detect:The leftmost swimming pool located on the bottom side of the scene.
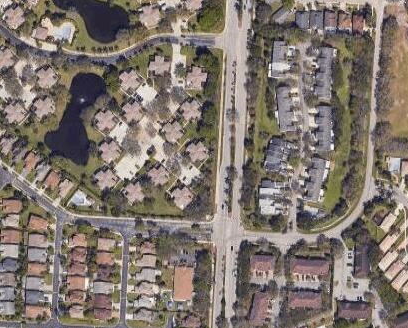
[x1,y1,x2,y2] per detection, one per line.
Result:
[71,190,91,209]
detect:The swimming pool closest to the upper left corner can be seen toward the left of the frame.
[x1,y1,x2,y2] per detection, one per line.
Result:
[56,23,74,40]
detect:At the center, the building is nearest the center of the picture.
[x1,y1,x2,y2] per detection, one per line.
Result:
[184,140,208,162]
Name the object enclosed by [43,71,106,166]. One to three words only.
pond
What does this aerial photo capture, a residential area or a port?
residential area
